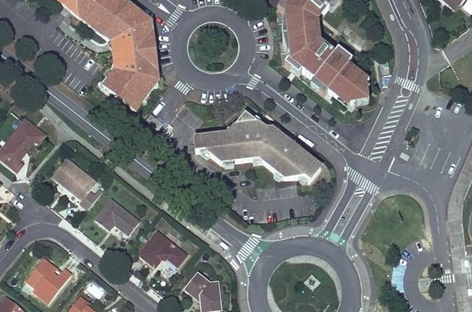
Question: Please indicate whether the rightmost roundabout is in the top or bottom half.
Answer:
bottom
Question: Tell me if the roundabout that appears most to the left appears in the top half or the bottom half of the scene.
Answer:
top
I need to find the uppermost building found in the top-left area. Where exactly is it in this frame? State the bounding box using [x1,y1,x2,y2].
[54,0,160,116]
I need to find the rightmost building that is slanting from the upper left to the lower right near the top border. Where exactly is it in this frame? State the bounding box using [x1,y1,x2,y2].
[278,0,369,115]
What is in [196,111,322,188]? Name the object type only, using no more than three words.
building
